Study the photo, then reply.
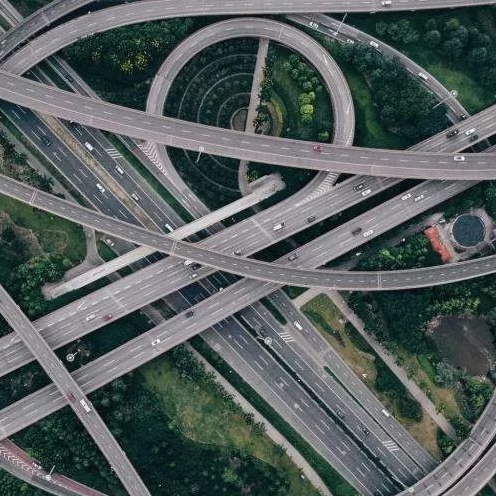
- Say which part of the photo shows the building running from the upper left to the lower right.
right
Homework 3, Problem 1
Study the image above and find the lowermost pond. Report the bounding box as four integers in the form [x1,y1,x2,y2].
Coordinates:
[426,314,495,377]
